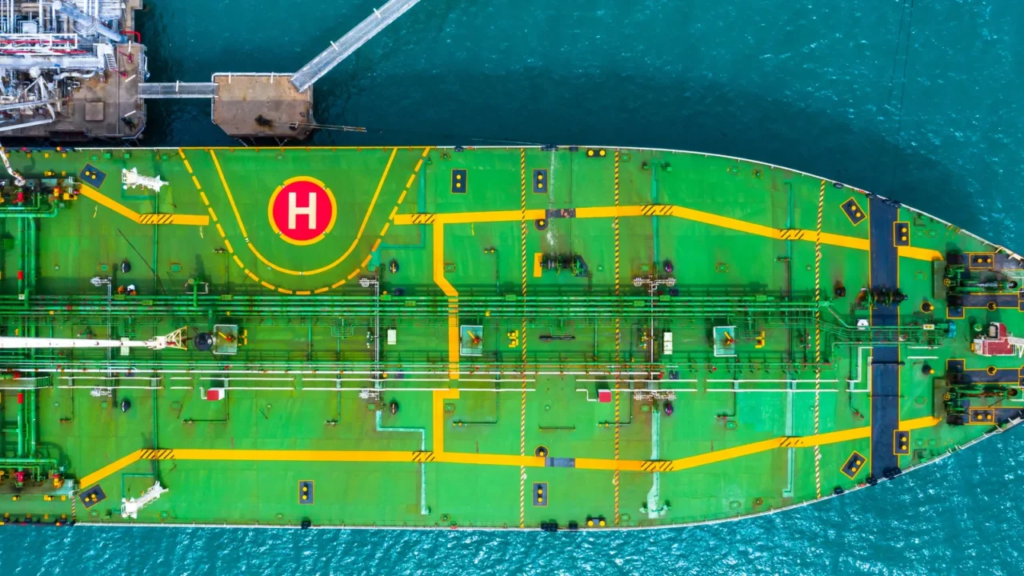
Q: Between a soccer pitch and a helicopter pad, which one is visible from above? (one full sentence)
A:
The image shows a helicopter pad.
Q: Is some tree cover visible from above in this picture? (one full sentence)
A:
No, tree cover can't be seen anywhere here.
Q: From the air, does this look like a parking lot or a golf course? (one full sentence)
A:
This image shows a parking lot.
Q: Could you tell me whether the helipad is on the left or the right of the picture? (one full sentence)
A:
You can find the helipad on the left side of the picture.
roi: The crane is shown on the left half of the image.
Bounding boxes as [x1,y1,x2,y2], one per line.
[0,326,187,350]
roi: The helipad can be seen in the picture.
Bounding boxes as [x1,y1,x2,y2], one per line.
[179,149,426,294]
